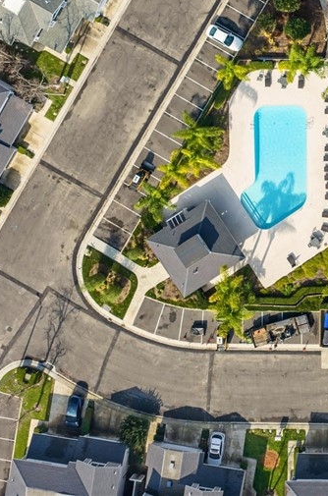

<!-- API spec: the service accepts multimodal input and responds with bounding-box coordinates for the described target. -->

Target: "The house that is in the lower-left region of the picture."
[5,429,132,496]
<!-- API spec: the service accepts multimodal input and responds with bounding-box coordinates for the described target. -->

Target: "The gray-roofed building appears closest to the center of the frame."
[147,200,245,297]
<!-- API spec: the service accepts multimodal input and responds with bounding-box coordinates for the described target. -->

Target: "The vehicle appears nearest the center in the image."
[127,160,150,191]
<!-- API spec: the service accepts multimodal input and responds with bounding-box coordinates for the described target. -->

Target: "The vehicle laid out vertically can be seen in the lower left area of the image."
[65,393,86,430]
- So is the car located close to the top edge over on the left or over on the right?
right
